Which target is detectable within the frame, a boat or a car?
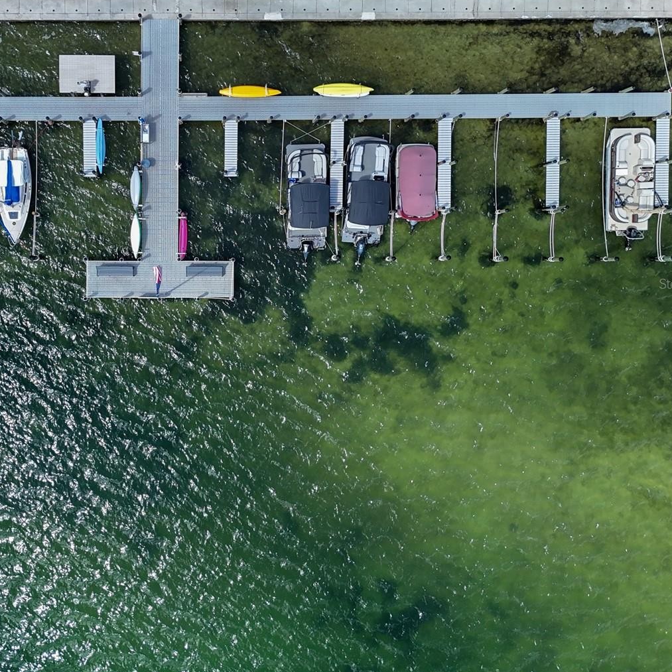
boat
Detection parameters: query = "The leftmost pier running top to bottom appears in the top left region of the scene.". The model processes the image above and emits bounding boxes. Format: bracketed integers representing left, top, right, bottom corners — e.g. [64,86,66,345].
[81,114,100,178]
